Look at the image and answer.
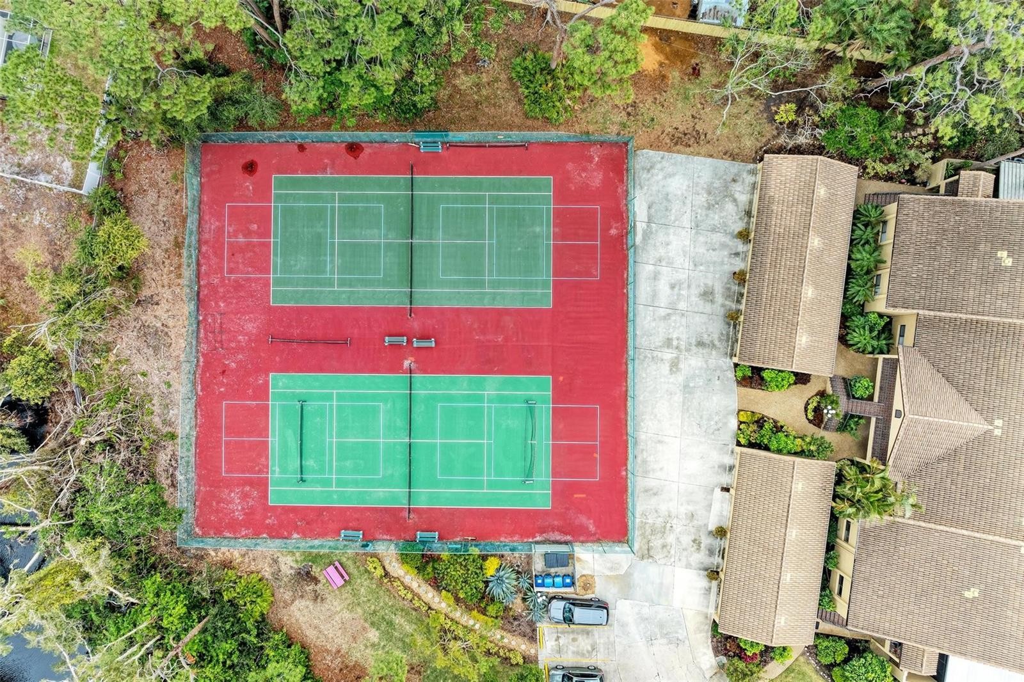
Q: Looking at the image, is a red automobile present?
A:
No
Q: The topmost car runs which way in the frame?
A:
from side to side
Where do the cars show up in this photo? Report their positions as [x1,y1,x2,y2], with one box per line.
[549,667,604,682]
[548,595,608,627]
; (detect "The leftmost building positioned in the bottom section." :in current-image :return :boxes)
[535,545,578,595]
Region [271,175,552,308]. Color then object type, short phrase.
green tennis court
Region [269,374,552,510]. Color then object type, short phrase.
green tennis court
